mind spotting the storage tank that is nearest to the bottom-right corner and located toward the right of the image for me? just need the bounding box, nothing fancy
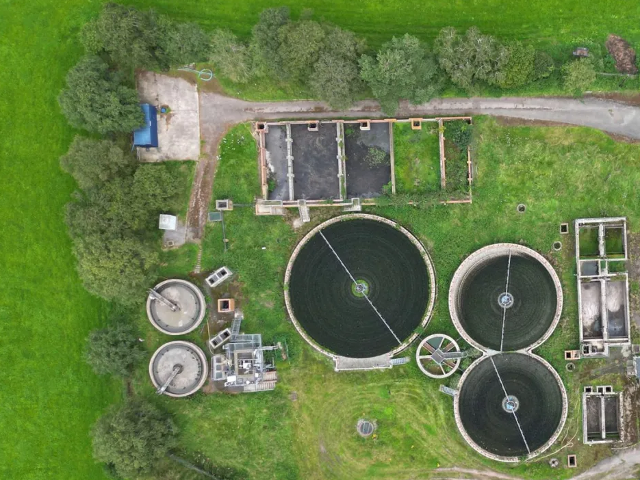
[582,385,624,445]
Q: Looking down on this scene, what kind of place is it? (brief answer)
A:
industrial area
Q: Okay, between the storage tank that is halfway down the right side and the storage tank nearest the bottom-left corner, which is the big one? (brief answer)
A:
the storage tank that is halfway down the right side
